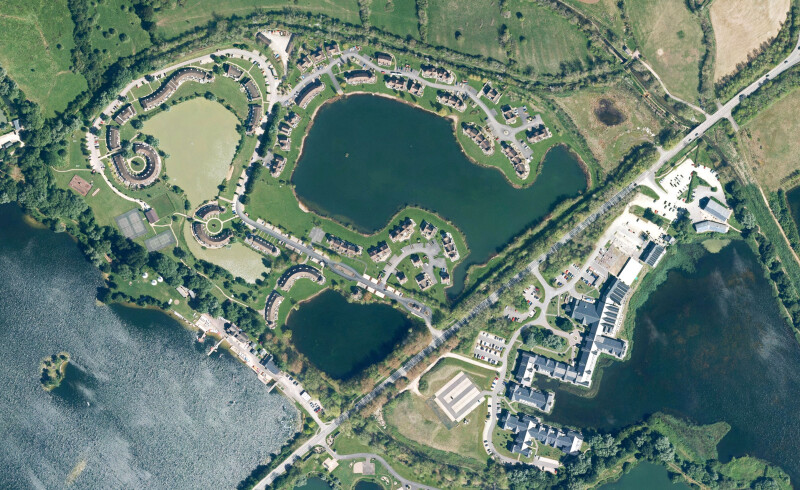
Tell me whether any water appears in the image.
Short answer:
Yes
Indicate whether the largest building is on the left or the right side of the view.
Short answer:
right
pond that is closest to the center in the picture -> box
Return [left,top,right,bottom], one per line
[289,288,410,377]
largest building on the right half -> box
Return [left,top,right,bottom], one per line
[516,295,629,388]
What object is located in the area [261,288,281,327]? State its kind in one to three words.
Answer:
building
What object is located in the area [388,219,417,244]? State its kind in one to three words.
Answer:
house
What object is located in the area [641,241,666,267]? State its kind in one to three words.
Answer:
shed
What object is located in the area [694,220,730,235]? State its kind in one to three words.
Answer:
barn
